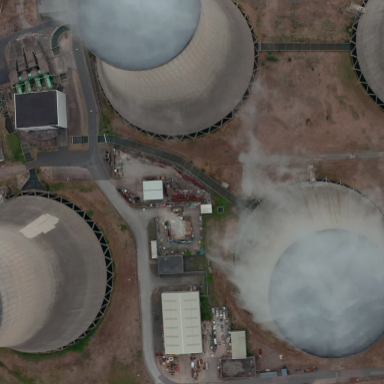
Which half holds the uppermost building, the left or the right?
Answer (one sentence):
The uppermost building is on the left side of the image.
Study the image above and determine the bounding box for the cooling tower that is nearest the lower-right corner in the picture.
[236,163,384,357]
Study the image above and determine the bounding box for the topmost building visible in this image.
[16,90,67,130]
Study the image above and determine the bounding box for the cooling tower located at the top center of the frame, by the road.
[78,0,259,140]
